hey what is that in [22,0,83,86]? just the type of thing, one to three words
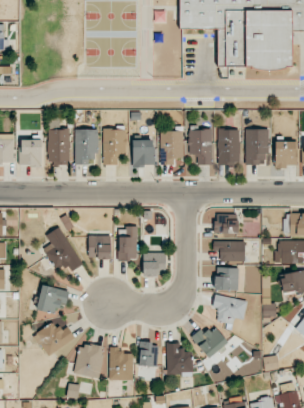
sports field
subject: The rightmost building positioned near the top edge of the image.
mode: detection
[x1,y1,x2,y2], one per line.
[180,0,304,70]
